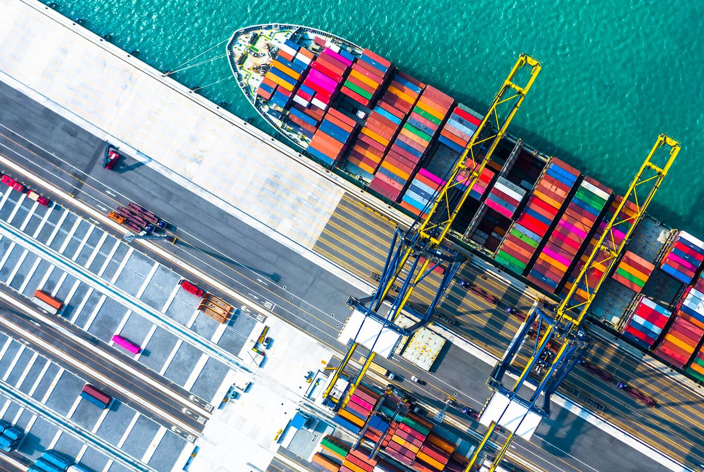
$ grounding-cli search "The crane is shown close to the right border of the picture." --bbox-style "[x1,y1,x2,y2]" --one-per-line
[463,133,682,472]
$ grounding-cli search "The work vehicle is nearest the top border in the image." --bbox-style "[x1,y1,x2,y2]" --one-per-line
[96,136,121,171]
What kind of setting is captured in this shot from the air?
port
